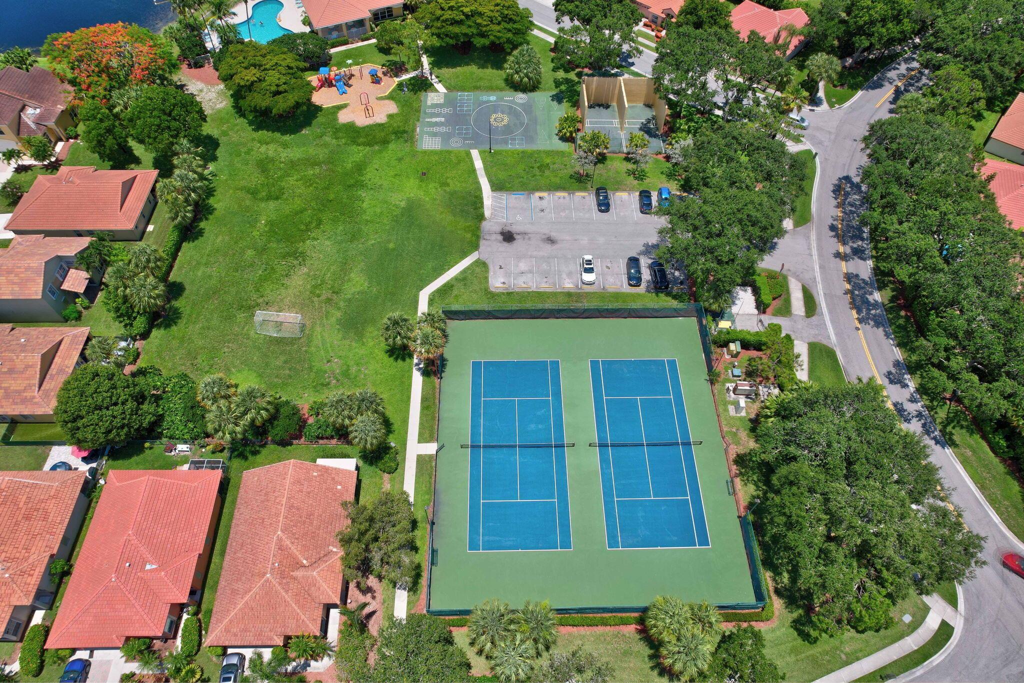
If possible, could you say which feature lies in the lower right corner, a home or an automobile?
automobile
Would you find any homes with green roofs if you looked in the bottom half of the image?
No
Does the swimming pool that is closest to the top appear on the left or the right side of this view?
left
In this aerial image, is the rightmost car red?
Yes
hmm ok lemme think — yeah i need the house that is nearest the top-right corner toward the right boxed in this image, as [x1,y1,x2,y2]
[984,90,1024,169]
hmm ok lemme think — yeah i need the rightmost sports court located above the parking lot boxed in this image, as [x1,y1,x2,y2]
[583,77,666,152]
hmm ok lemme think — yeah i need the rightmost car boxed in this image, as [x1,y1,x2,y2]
[1000,551,1024,576]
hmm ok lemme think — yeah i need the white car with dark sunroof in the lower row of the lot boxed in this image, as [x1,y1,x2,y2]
[581,255,599,285]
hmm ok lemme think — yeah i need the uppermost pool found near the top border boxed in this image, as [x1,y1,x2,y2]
[202,0,316,52]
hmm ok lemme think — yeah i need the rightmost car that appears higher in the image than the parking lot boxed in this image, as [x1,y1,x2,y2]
[785,111,813,130]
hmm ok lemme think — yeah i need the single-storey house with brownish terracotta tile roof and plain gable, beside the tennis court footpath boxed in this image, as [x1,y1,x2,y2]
[203,457,358,647]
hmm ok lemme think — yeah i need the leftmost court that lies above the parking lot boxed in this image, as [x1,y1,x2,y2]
[417,92,568,149]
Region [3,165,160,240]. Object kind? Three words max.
house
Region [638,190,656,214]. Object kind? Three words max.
car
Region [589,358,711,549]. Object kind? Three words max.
tennis court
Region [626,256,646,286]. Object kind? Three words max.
car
